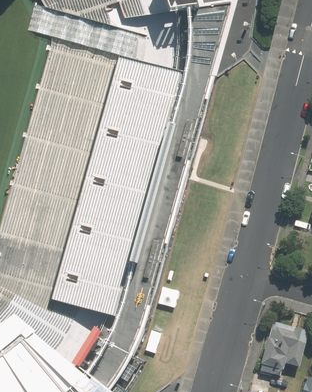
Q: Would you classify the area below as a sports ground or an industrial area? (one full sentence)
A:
The picture captures a sports ground.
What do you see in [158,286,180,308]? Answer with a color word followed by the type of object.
white tent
